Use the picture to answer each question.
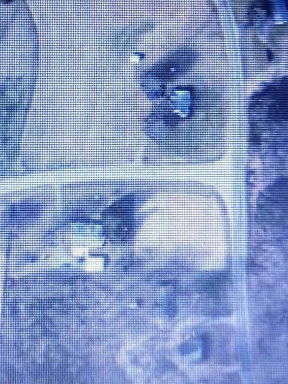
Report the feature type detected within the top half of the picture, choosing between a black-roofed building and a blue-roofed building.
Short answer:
blue-roofed building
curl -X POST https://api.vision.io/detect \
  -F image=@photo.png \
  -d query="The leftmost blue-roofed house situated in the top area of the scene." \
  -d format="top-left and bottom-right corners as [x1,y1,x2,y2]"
[173,90,192,116]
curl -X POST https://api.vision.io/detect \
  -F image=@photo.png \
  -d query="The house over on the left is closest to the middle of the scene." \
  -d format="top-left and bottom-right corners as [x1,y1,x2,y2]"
[71,223,103,248]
